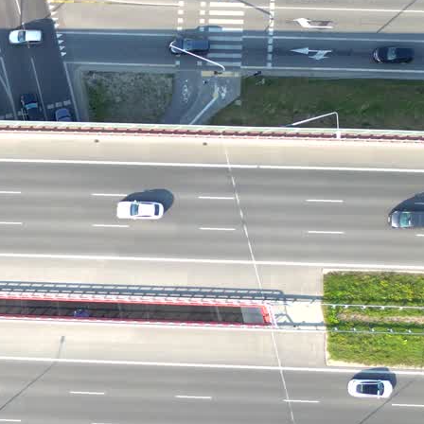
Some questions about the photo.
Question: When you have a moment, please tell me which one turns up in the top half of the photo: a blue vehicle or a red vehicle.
blue vehicle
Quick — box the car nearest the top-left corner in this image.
[7,27,43,46]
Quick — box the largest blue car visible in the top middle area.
[169,36,211,56]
